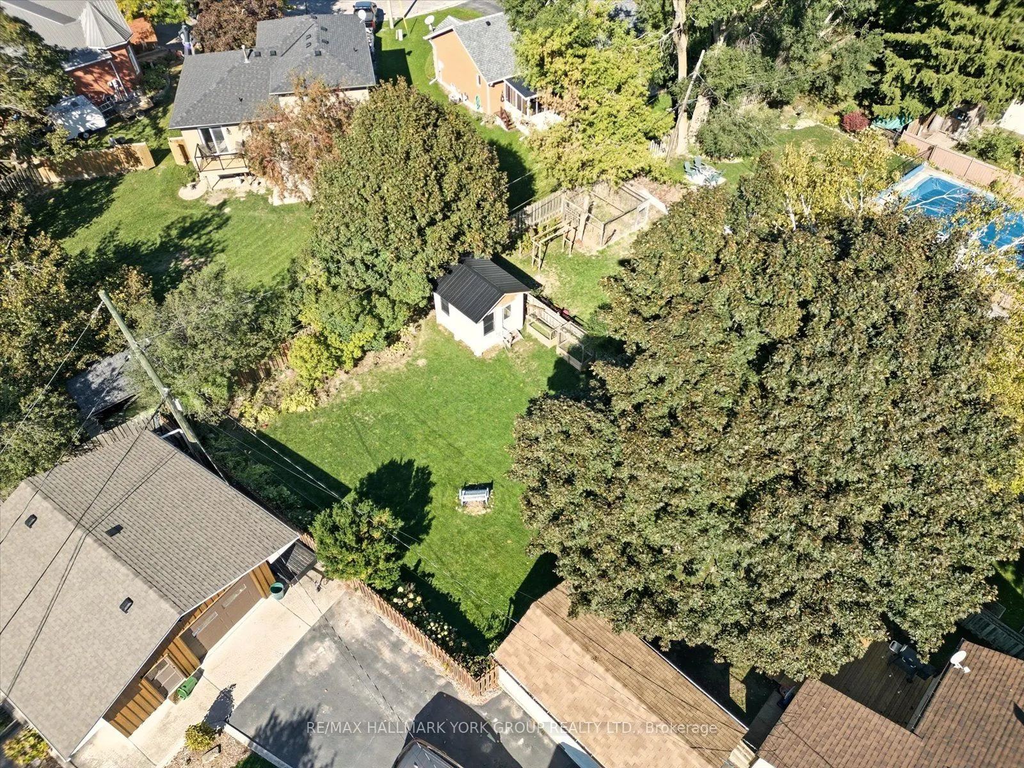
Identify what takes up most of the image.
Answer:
trees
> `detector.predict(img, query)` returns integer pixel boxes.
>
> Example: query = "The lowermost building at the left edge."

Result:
[0,428,302,768]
